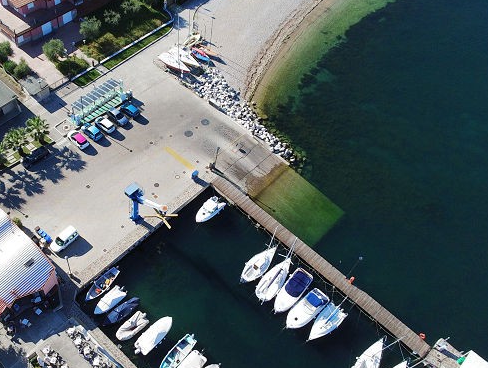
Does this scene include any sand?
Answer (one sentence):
Yes, there is sand in the image.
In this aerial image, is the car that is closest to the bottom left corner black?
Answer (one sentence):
No, the car that is closest to the bottom left corner is actually white.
